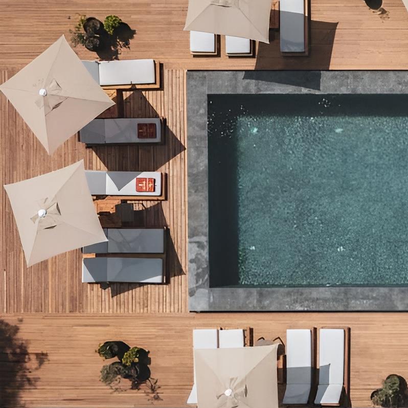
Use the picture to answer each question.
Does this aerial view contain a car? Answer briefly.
No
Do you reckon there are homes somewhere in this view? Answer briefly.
No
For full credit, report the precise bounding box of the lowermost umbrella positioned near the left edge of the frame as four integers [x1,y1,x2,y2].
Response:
[2,160,109,268]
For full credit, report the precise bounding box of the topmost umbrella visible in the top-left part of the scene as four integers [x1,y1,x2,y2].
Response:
[0,33,117,155]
